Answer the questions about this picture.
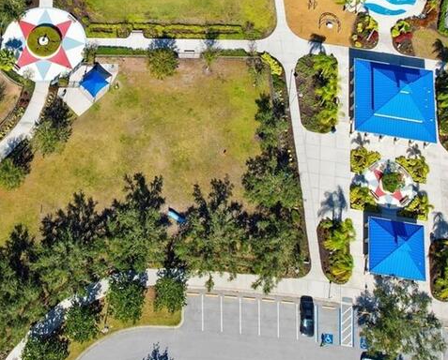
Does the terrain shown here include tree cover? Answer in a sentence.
Yes, there's tree cover in this view.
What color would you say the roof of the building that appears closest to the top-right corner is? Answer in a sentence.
The roof of the building that appears closest to the top-right corner is blue.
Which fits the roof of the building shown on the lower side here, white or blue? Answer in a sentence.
The color of the roof of the building shown on the lower side is blue.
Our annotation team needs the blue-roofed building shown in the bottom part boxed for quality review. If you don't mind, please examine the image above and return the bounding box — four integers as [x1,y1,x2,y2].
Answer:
[366,217,426,281]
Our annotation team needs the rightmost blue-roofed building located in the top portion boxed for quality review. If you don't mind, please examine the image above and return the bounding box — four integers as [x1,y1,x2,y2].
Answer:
[352,59,437,147]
